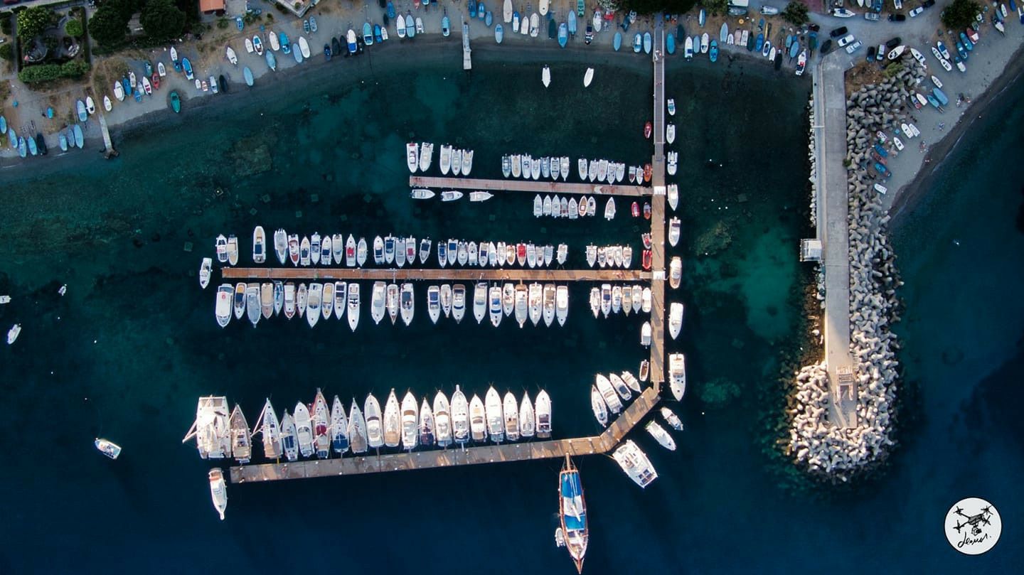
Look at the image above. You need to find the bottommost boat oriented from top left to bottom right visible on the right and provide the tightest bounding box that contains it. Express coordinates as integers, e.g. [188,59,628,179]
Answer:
[612,439,658,489]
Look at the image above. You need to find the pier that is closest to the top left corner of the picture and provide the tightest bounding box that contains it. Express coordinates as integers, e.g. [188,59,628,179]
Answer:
[99,114,119,159]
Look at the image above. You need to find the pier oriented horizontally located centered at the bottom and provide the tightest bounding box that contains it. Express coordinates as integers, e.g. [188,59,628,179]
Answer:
[230,382,660,483]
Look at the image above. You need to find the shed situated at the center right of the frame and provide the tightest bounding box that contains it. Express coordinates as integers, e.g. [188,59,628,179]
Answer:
[797,239,824,261]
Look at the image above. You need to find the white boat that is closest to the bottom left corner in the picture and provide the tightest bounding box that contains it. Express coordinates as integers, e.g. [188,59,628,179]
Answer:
[96,440,123,457]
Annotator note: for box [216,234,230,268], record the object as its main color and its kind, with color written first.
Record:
white boat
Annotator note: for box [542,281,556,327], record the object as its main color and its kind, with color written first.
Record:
white boat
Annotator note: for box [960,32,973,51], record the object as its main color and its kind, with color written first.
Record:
blue boat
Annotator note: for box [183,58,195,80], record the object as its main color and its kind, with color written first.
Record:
blue boat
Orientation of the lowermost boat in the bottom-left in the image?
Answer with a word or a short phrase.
vertically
